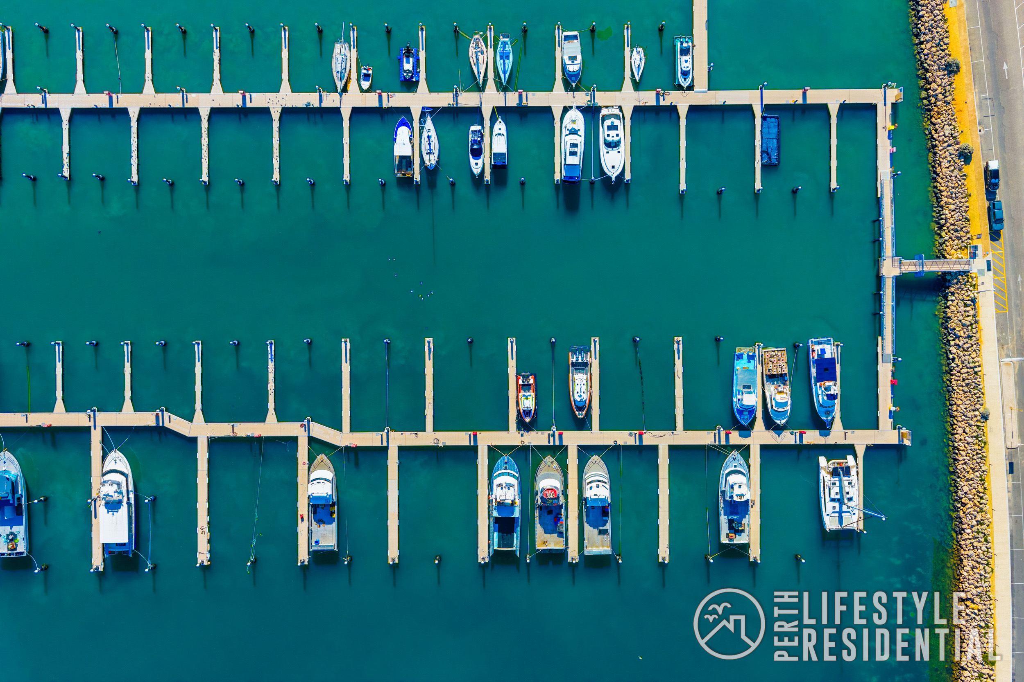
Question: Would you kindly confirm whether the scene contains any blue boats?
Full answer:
Yes, looking at the shot, I can spot a blue boat.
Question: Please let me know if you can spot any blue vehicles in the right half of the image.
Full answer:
Yes, a blue vehicle can be seen in the right half of the image.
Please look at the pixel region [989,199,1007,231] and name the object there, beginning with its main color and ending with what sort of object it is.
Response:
blue vehicle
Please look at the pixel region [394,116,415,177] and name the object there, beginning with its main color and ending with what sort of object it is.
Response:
white boat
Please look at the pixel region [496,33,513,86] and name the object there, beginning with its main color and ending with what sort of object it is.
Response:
blue boat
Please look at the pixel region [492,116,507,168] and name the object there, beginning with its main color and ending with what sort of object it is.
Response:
white boat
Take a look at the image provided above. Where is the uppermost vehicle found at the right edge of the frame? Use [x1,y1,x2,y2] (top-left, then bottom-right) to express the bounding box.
[986,158,1004,191]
